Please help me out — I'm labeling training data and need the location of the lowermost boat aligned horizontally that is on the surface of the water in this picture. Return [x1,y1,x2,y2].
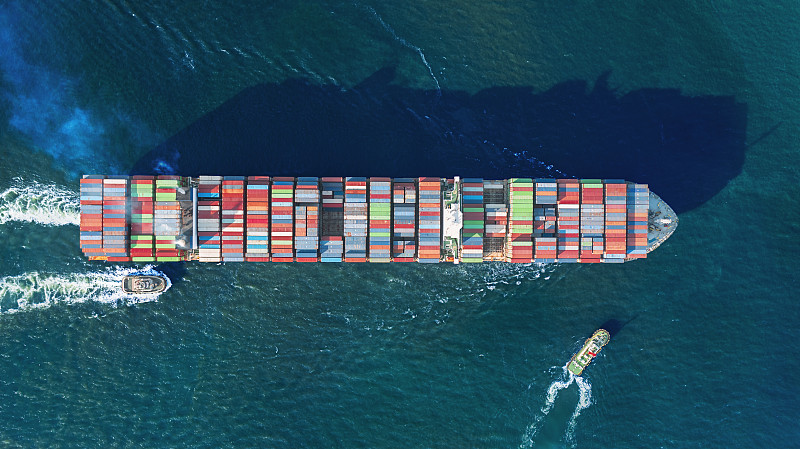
[123,274,169,296]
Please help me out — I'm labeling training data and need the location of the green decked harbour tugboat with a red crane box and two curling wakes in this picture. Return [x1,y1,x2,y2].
[567,328,609,378]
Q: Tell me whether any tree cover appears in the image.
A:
No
